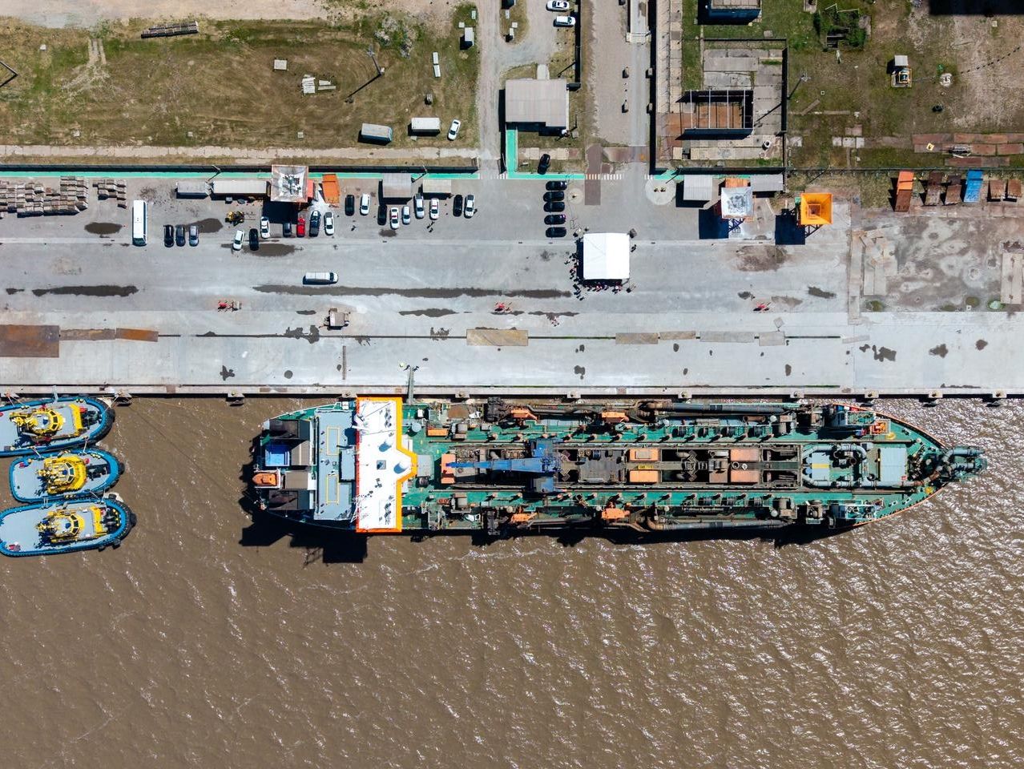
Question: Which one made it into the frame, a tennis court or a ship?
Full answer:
The one in the frame is a ship.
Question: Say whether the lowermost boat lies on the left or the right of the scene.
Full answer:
The lowermost boat sits on the left side.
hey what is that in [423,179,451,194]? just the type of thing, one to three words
shed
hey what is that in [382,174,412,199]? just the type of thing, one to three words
shed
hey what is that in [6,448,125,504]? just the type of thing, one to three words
boat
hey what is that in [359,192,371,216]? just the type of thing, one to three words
vehicle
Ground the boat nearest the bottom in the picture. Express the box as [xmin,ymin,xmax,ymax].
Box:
[0,499,137,559]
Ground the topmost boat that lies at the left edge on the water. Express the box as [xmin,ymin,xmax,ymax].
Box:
[0,395,117,456]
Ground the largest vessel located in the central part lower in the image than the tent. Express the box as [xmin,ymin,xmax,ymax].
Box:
[252,398,988,533]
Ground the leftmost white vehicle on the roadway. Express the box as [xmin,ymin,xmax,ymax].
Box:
[130,199,148,245]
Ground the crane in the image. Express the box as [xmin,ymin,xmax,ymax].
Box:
[444,440,566,493]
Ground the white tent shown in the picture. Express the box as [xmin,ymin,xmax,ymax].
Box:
[583,233,630,280]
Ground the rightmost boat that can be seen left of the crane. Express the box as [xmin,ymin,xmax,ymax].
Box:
[253,472,280,485]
